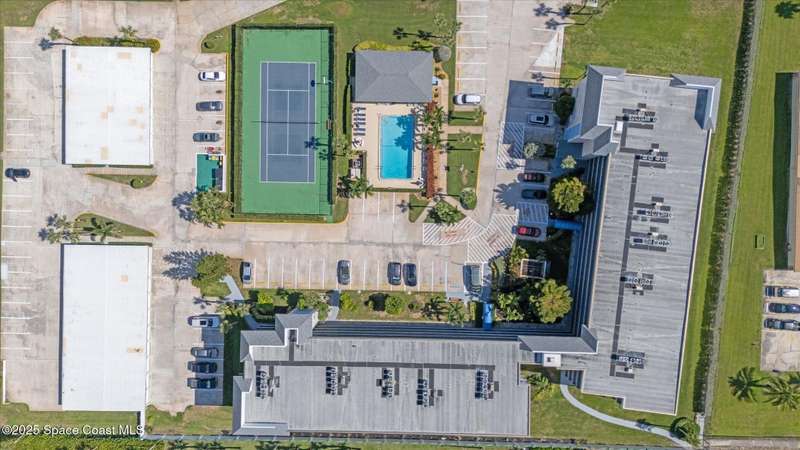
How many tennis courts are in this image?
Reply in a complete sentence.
I count just 1 tennis court.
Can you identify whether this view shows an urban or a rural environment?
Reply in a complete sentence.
From above, the setting appears urban.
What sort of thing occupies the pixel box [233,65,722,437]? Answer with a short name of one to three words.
building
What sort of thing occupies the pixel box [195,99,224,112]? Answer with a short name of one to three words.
vehicle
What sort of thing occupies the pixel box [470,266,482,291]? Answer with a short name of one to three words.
vehicle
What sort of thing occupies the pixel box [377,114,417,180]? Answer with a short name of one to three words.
swimming pool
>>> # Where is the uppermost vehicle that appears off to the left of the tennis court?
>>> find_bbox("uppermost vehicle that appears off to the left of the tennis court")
[198,70,226,82]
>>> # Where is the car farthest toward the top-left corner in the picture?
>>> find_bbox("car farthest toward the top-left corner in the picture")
[5,167,31,182]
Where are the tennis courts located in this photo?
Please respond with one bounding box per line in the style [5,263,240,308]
[236,22,333,222]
